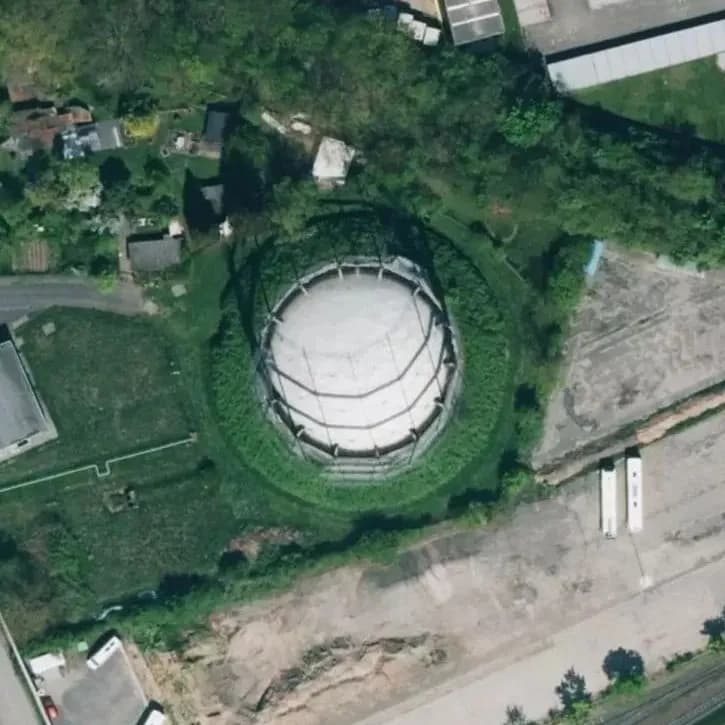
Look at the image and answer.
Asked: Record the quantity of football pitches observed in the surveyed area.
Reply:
0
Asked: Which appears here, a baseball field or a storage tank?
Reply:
storage tank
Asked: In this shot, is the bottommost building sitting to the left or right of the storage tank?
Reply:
to the left of it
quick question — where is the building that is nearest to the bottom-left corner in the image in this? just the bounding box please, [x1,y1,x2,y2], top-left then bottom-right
[0,338,47,437]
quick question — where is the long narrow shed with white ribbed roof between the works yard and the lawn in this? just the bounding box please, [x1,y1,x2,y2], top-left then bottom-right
[548,17,725,91]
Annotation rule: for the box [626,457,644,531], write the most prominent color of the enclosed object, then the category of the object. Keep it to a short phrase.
white vehicle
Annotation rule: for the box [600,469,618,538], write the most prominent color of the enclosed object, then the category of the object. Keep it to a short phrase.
white vehicle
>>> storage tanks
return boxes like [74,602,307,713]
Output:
[249,257,467,483]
